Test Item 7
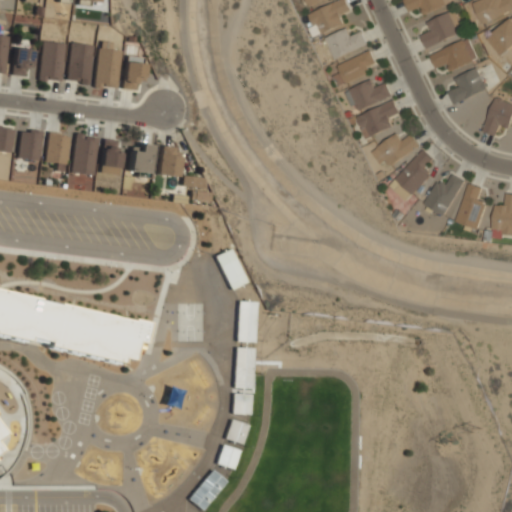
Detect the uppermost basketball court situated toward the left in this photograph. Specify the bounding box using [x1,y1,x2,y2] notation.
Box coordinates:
[178,304,204,342]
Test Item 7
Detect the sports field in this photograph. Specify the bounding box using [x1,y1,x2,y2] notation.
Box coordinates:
[228,376,350,512]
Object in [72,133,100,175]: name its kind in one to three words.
house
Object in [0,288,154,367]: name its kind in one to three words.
building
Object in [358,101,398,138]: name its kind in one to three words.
house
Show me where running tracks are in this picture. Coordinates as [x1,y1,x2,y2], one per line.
[219,368,359,512]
